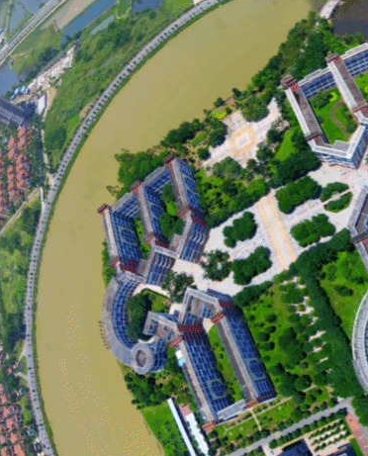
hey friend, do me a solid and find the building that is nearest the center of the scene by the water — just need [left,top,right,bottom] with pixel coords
[93,151,206,285]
